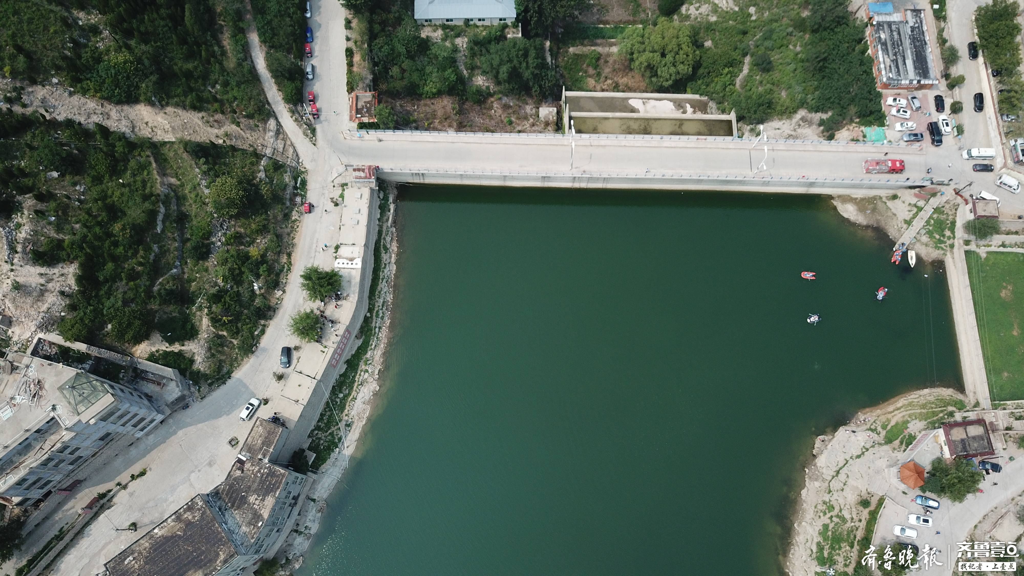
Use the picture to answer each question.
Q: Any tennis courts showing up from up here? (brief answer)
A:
No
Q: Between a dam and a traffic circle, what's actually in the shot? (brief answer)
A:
dam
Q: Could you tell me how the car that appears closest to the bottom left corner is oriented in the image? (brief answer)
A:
diagonally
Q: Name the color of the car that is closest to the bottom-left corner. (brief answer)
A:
white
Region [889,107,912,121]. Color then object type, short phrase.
white car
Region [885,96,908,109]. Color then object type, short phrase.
white vehicle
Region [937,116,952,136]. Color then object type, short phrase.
white car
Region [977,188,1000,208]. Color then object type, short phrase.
white vehicle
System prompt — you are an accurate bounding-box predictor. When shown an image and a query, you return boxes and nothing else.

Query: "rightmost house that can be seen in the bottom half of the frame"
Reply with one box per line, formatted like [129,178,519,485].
[939,420,994,459]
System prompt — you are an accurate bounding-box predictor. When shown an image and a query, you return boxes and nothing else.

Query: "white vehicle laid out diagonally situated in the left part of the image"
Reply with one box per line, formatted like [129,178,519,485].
[239,398,262,422]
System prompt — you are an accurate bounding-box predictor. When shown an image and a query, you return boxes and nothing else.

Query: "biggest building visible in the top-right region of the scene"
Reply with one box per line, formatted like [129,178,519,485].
[871,9,939,90]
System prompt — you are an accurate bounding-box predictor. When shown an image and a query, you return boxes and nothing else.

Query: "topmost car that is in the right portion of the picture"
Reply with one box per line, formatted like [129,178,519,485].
[966,42,979,61]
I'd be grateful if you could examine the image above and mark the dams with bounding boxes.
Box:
[368,130,932,198]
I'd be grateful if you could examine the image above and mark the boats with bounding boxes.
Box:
[891,250,902,266]
[908,250,916,268]
[875,286,888,303]
[806,313,824,323]
[800,272,818,279]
